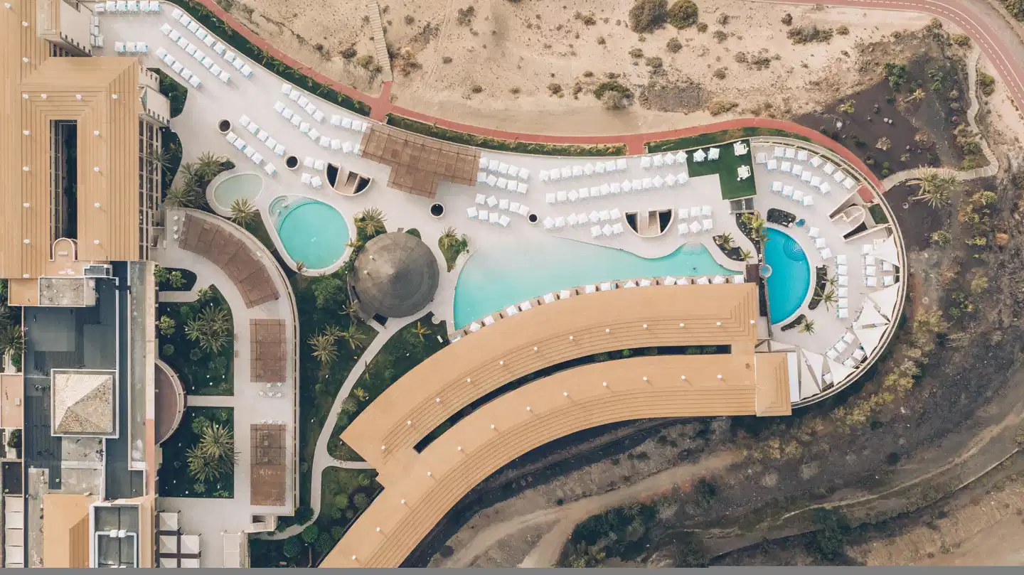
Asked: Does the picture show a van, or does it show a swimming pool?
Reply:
swimming pool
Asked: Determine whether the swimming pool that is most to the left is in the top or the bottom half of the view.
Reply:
top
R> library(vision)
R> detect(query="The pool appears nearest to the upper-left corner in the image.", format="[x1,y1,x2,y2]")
[211,171,265,212]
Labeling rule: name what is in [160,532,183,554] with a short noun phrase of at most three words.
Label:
tent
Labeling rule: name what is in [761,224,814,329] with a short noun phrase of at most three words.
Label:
swimming pool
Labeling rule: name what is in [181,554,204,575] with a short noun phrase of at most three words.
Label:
tent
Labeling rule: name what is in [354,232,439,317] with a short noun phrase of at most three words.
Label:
shed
